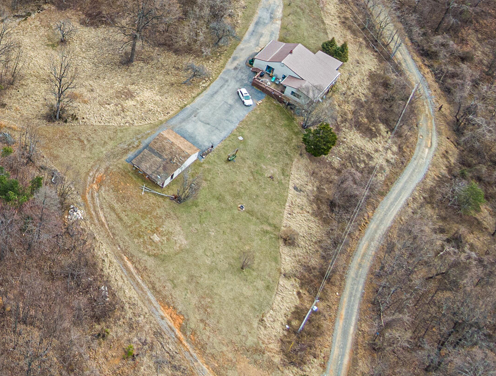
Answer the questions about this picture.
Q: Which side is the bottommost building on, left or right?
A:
left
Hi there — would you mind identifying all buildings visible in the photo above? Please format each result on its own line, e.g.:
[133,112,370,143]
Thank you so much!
[249,38,345,111]
[132,127,201,191]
